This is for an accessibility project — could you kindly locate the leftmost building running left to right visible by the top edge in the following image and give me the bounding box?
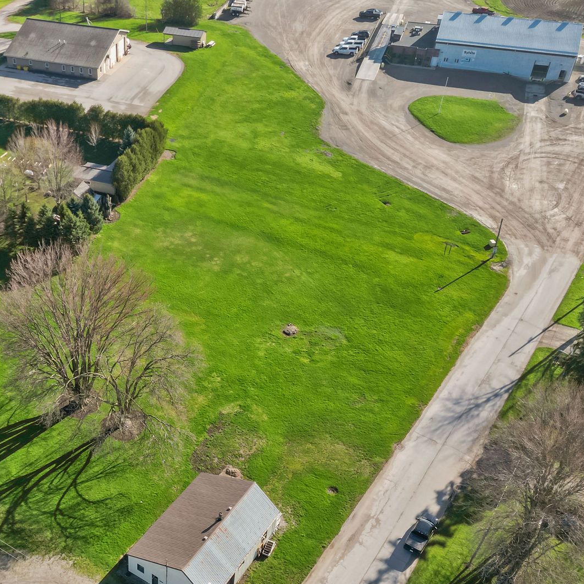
[4,19,144,81]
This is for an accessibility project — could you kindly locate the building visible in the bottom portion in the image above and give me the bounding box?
[125,472,283,584]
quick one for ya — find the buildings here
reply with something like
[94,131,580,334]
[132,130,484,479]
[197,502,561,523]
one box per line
[78,157,119,199]
[435,8,580,82]
[4,19,144,81]
[125,472,283,584]
[163,24,206,50]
